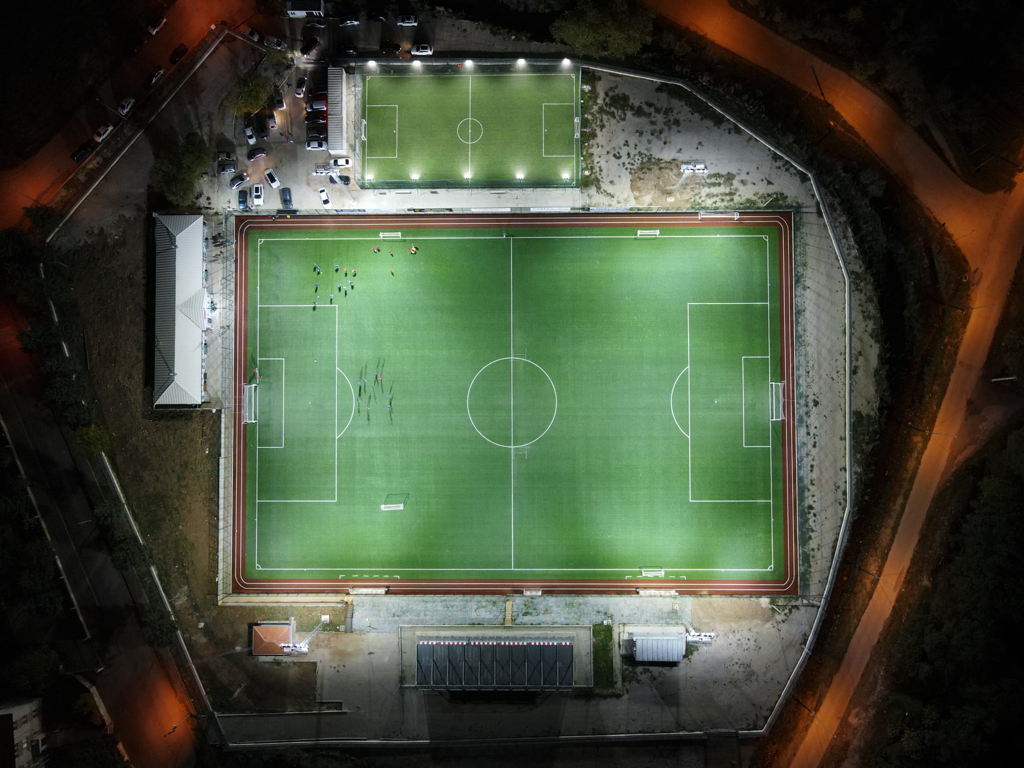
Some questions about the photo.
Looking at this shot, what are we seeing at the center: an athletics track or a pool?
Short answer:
athletics track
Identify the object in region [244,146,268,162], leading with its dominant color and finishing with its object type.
black car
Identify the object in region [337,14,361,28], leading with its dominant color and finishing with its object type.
black car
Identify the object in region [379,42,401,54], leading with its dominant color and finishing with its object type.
black vehicle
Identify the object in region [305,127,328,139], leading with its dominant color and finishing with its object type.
black vehicle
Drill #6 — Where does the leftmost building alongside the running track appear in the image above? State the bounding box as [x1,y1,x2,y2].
[149,214,212,405]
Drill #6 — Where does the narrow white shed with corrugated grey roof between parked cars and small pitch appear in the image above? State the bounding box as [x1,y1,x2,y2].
[327,68,347,155]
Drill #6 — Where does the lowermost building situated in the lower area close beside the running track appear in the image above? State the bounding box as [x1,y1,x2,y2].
[252,617,316,662]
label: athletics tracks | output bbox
[231,210,800,596]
